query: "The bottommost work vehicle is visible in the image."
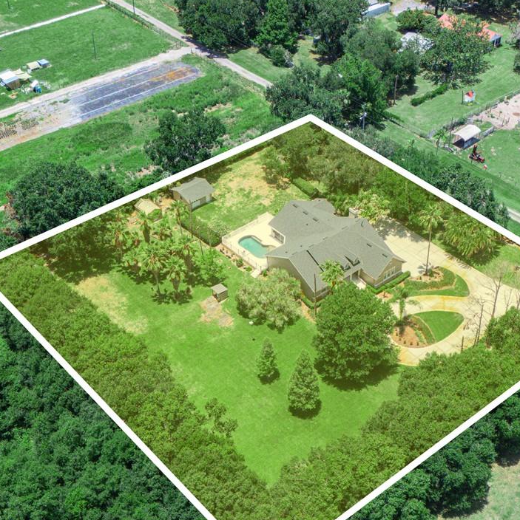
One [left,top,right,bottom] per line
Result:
[470,141,485,159]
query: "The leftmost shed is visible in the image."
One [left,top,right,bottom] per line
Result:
[0,68,22,88]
